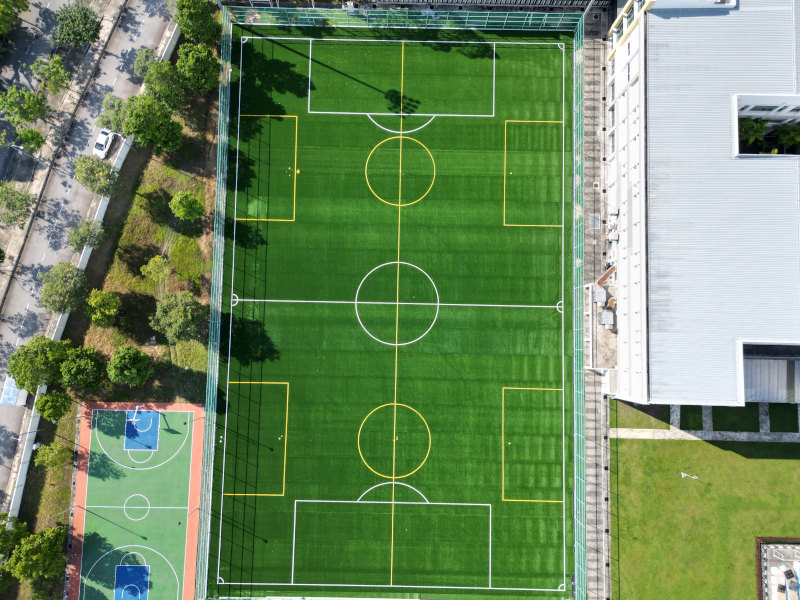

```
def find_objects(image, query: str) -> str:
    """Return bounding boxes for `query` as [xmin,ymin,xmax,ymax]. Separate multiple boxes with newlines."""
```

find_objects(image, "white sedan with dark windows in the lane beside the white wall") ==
[93,128,114,157]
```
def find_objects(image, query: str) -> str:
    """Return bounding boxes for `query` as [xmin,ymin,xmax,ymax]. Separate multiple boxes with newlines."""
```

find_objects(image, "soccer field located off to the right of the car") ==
[204,21,577,600]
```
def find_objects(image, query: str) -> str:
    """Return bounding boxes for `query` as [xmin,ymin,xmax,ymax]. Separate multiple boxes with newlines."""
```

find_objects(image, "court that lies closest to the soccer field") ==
[68,402,206,600]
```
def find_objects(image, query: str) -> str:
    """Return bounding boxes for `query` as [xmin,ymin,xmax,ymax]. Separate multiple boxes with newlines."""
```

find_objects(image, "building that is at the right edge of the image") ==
[602,0,800,408]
